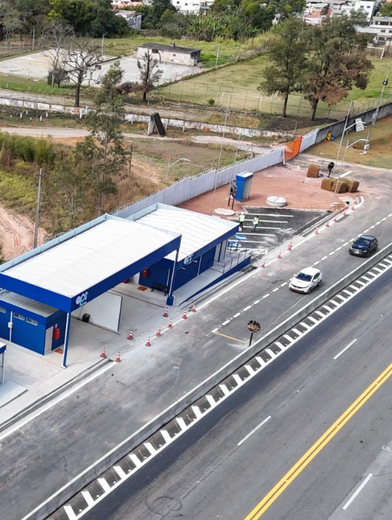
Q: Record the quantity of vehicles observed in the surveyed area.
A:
2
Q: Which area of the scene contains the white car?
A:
right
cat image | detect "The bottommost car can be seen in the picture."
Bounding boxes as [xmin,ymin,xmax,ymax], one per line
[289,263,325,291]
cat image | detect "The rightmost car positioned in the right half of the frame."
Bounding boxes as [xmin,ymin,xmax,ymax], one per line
[351,232,382,256]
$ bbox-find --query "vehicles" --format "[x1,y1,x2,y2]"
[289,263,325,291]
[351,232,382,256]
